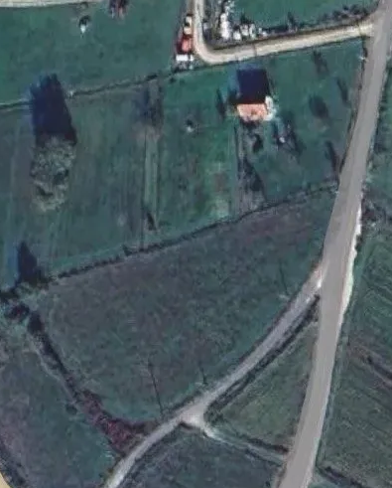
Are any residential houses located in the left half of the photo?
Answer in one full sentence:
No, looking in the left half of the photo, there is no residential house.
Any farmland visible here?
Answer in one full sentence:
Yes, there's farmland in this view.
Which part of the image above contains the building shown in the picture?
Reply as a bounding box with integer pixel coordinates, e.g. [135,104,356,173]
[238,99,277,125]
